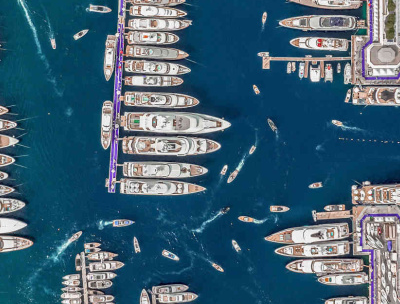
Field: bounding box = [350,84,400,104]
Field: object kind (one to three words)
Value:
boat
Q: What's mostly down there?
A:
water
